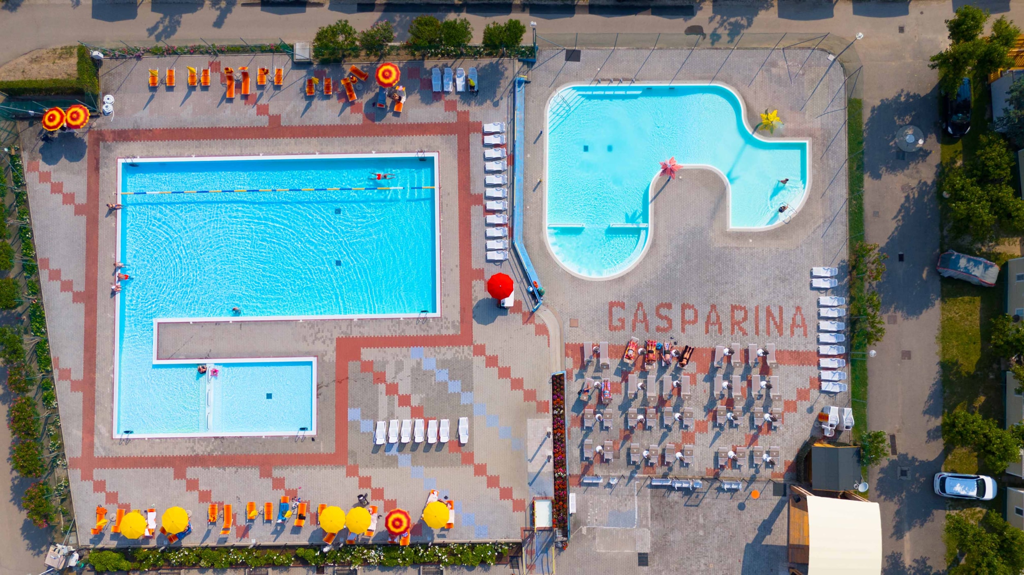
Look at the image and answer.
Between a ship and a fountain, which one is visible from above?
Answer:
fountain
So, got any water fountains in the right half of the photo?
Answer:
Yes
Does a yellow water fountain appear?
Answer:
Yes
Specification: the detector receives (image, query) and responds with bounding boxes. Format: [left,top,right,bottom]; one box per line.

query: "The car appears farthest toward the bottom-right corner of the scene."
[931,471,995,502]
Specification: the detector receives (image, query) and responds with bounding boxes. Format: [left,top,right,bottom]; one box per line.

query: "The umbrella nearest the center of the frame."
[486,273,514,299]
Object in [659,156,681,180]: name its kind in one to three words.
fountain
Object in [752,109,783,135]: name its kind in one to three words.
fountain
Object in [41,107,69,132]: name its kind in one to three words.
umbrella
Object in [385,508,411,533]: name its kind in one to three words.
umbrella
